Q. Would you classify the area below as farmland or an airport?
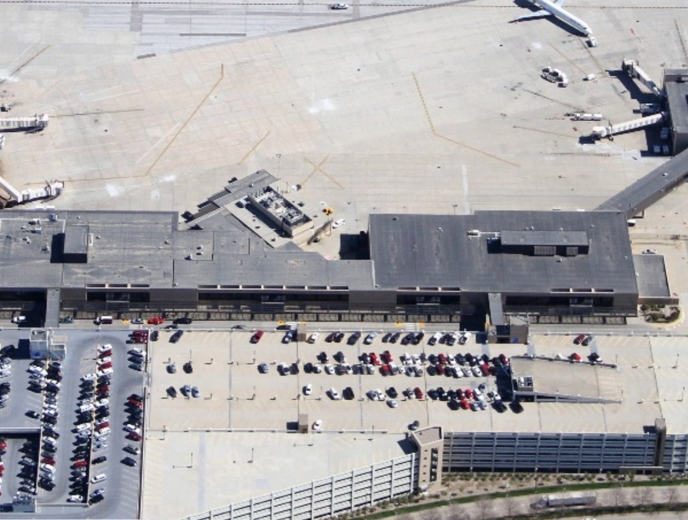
airport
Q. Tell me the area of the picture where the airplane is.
top right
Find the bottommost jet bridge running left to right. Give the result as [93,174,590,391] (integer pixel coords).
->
[0,177,67,210]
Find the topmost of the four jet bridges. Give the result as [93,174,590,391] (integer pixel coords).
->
[622,61,666,107]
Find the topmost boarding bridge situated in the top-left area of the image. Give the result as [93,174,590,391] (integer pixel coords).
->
[0,115,54,136]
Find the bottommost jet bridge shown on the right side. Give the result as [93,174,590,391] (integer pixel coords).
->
[593,112,668,144]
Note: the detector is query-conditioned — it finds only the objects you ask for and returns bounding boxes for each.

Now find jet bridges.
[0,115,54,136]
[0,177,67,210]
[622,61,666,107]
[593,112,668,144]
